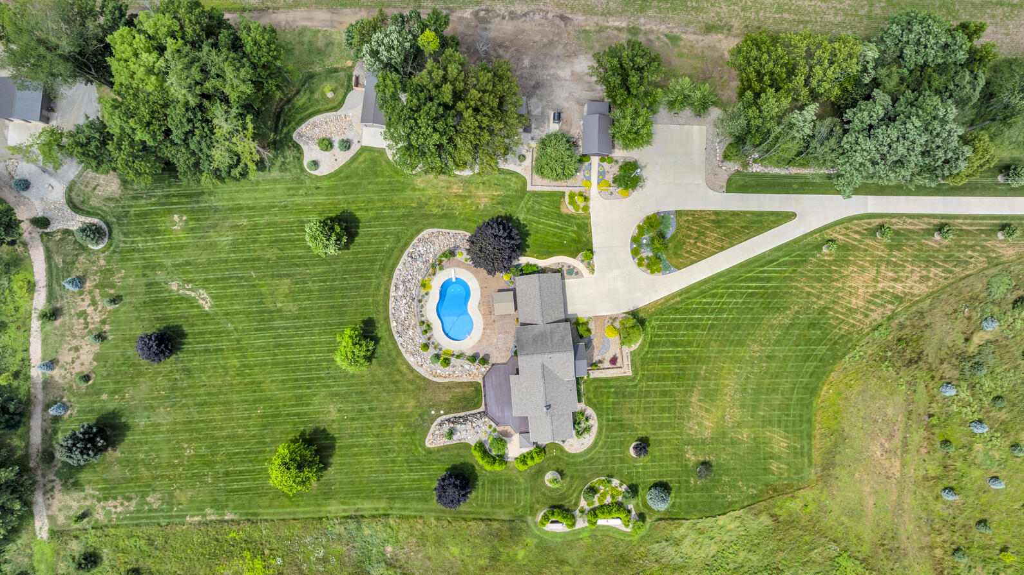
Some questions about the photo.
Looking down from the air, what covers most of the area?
grass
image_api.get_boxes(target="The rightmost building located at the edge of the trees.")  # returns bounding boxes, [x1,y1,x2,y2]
[583,102,612,158]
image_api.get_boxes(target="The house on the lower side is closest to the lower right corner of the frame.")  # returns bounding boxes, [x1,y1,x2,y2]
[509,273,587,450]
